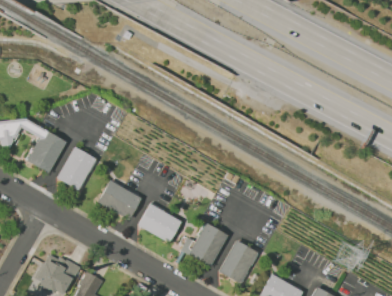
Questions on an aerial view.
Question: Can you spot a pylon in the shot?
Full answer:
Yes, there's a pylon here.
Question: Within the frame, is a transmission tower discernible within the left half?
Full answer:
No, I see no transmission tower within the left half.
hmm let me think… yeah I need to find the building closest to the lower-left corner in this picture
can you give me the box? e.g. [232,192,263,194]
[28,257,80,296]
